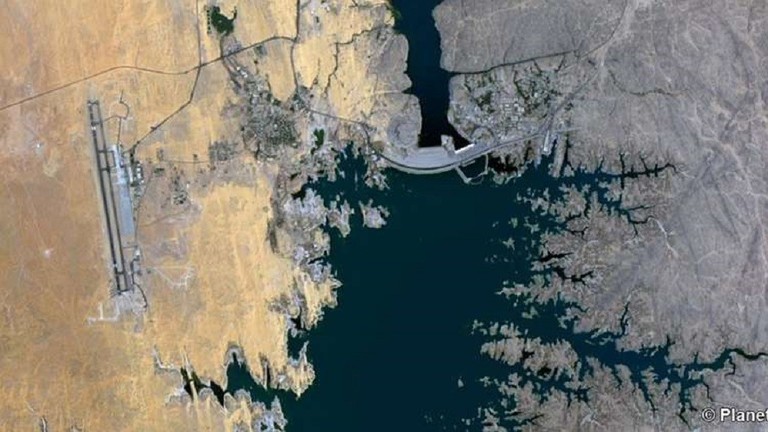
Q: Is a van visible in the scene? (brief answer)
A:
No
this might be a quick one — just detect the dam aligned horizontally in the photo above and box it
[365,143,490,175]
